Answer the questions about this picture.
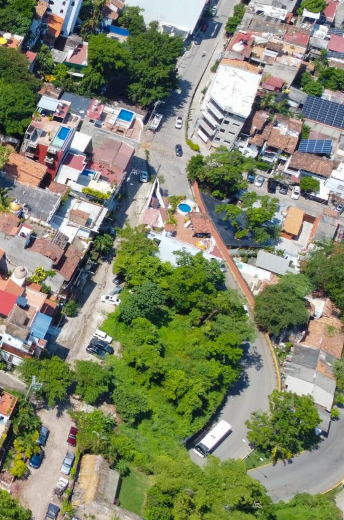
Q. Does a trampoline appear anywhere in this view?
No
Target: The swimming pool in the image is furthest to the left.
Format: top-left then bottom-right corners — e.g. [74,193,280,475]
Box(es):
[52,126,72,149]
